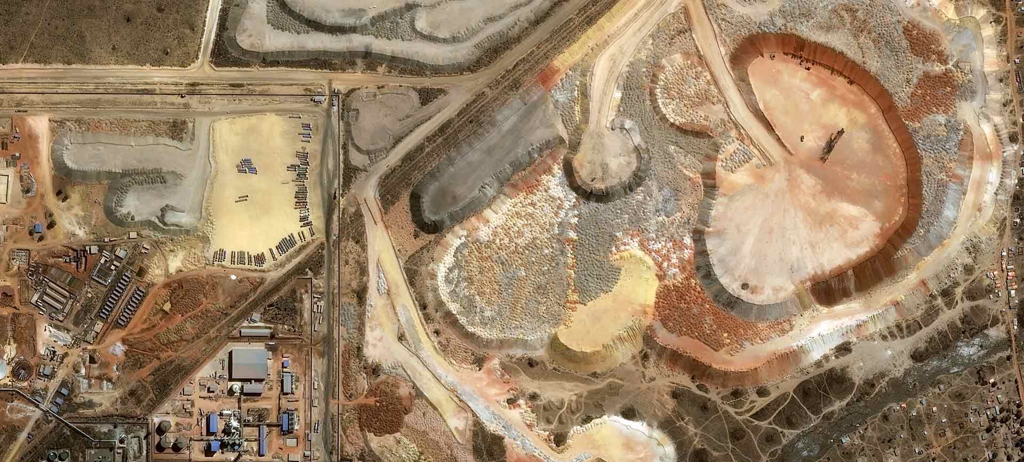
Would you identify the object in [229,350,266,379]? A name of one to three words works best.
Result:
building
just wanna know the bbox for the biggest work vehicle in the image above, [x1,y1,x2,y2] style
[823,126,848,160]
